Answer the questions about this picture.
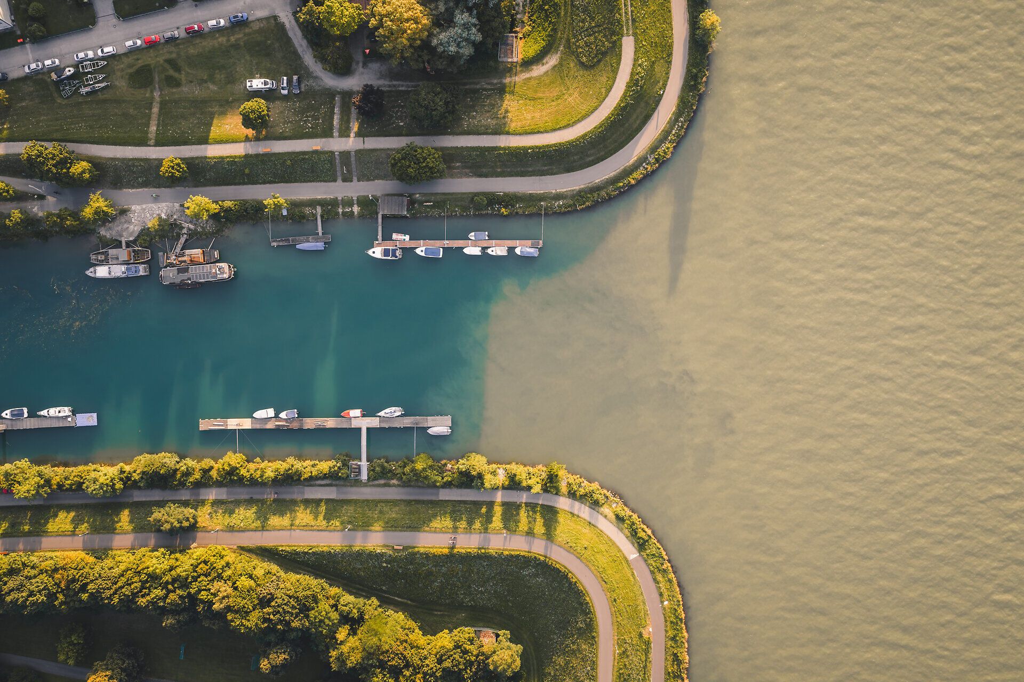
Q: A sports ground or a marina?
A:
marina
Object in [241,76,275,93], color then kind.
white vehicle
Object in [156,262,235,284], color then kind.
gray boat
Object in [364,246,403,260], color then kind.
white boat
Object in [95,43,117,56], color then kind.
white vehicle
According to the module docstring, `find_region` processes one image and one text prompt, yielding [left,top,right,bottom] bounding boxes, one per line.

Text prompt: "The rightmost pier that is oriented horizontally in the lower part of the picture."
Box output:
[199,415,452,431]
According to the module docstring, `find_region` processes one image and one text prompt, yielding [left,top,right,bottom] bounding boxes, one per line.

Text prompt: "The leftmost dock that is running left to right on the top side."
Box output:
[271,234,331,246]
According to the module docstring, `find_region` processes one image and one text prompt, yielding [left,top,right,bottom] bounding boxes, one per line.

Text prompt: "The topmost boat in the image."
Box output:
[46,65,73,80]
